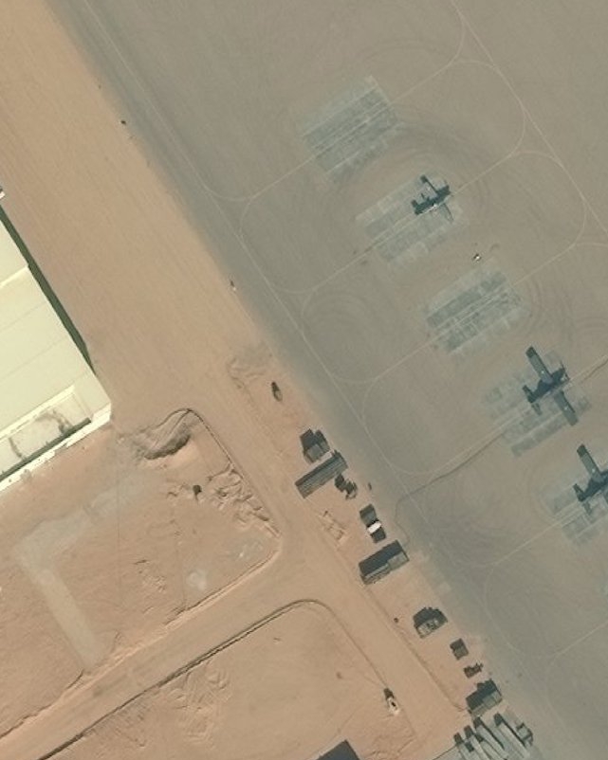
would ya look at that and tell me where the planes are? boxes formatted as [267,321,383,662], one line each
[524,356,577,423]
[574,454,608,513]
[410,182,453,229]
